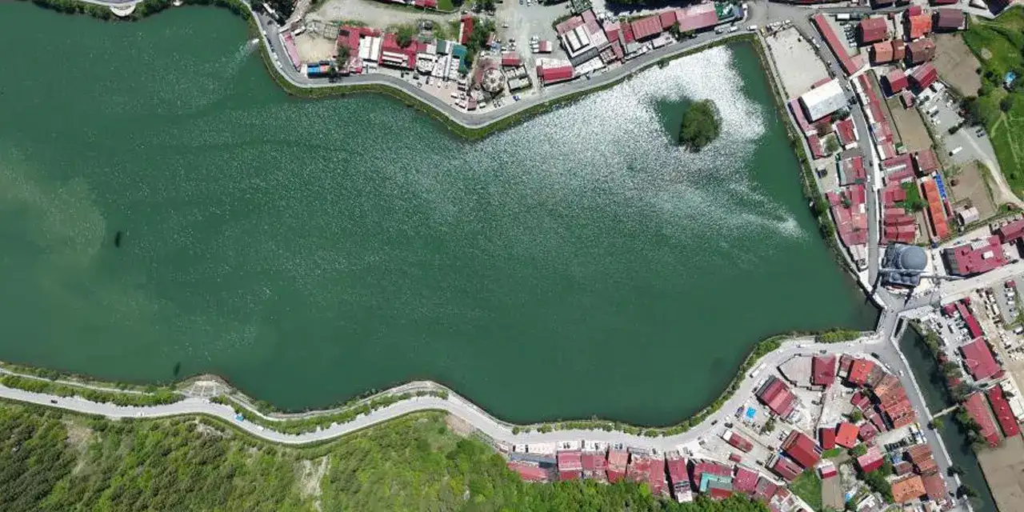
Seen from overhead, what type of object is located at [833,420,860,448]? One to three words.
house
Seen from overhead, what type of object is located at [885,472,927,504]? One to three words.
building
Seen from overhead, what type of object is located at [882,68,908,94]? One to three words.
house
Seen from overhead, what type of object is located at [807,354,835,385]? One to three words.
building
